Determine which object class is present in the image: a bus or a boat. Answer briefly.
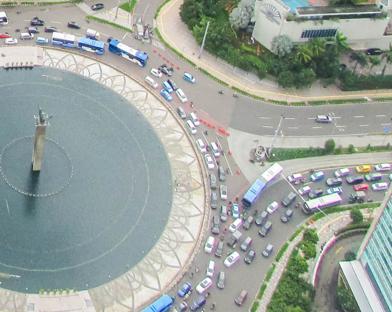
bus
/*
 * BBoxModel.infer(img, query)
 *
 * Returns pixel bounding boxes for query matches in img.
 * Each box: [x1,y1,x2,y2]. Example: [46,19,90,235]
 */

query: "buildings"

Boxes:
[337,180,392,312]
[255,0,392,55]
